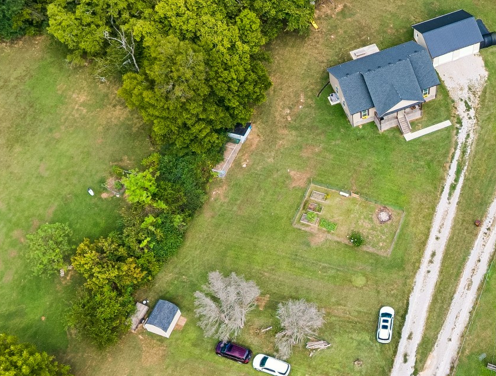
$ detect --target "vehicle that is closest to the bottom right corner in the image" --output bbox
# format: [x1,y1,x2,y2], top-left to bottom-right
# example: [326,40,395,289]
[377,308,395,345]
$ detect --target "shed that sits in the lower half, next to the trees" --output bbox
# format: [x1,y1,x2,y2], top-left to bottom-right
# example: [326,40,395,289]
[140,298,186,337]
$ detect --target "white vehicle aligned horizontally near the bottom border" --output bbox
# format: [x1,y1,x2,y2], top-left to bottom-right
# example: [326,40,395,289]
[252,355,292,376]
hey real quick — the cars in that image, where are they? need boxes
[214,343,254,365]
[377,308,395,345]
[252,355,292,376]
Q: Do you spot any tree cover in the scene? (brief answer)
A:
Yes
